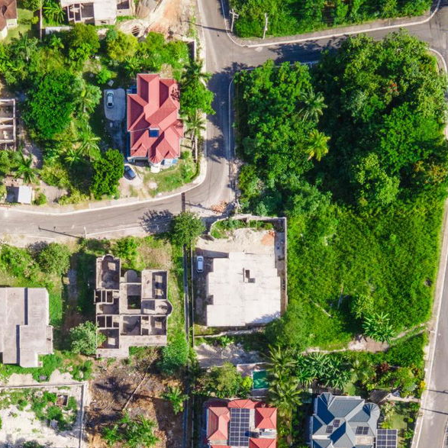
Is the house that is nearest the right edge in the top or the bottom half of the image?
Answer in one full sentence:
It is in the bottom half that the house that is nearest the right edge appears.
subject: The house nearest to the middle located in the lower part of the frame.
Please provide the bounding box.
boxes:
[206,250,280,328]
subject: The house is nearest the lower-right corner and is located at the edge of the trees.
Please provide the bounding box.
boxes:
[310,396,380,448]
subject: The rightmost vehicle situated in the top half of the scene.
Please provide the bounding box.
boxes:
[123,162,137,183]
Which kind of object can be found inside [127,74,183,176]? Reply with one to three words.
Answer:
house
